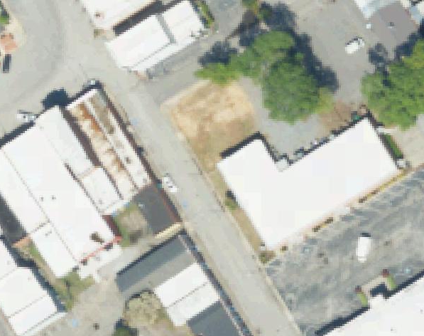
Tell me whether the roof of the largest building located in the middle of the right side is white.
Yes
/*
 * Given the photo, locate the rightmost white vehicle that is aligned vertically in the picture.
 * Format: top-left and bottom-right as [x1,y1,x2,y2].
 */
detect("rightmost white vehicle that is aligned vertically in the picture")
[357,235,370,261]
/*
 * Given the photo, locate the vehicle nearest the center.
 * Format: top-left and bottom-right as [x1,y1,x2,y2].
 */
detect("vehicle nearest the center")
[162,175,175,192]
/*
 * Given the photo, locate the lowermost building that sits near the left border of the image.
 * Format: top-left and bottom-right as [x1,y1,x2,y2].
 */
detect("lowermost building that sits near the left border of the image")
[9,296,62,336]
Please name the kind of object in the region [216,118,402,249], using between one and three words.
building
